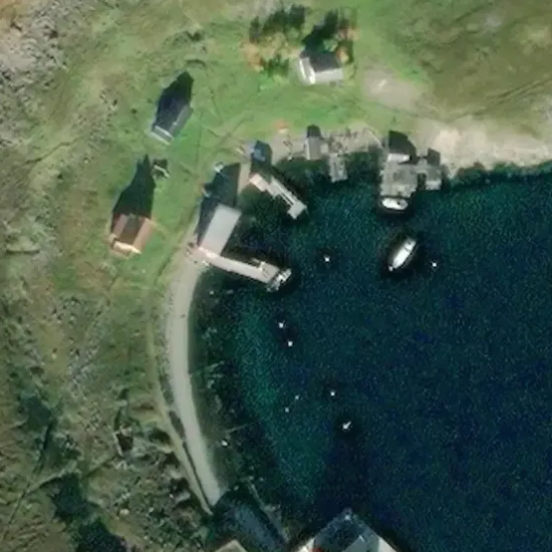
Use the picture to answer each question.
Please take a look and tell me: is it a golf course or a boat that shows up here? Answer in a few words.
boat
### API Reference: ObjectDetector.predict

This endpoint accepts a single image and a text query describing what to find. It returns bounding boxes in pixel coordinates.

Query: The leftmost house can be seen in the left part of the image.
[109,216,152,264]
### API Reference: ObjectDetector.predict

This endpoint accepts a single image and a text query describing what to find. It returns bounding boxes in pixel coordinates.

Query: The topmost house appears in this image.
[301,58,344,91]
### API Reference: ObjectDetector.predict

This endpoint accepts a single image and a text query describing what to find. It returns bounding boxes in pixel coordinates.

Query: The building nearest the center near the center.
[196,203,240,260]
